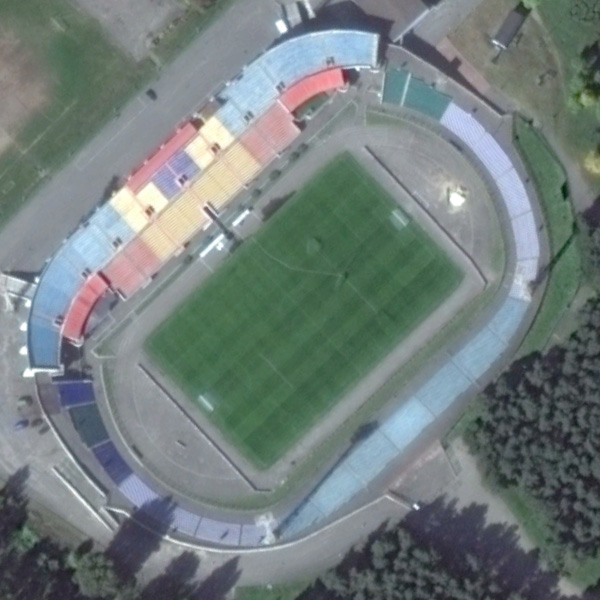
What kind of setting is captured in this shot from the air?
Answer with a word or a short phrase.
sports ground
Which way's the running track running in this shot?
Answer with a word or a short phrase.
diagonally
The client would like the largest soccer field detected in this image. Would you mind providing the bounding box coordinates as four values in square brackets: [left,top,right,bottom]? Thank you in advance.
[142,154,468,468]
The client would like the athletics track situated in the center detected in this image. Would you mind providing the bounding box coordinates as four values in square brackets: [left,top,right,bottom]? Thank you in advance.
[107,118,496,504]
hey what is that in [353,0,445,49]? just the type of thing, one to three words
building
